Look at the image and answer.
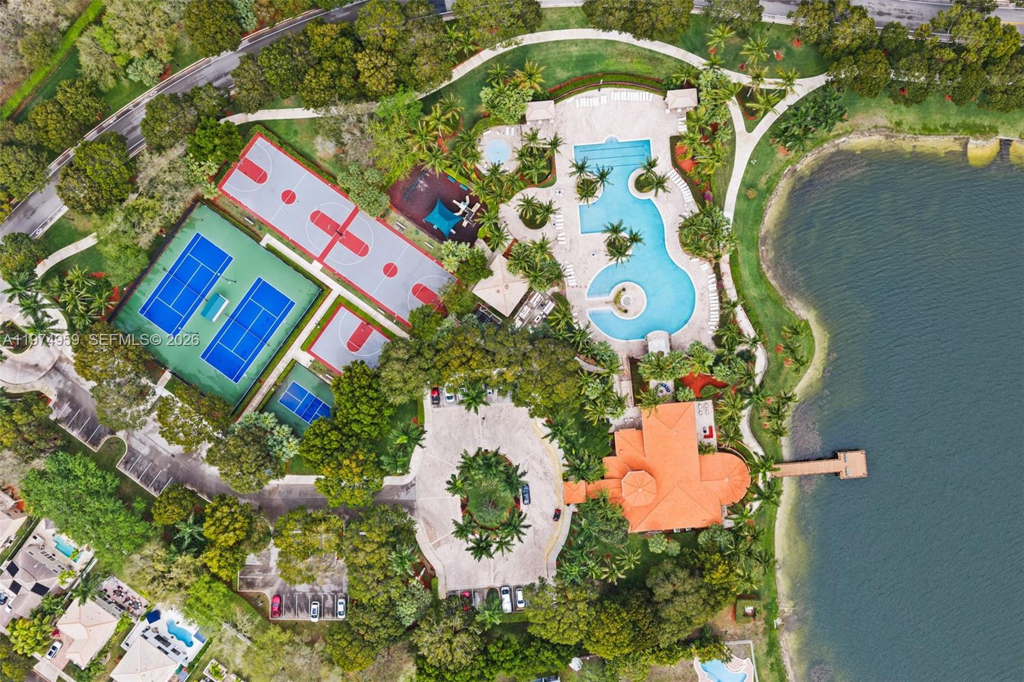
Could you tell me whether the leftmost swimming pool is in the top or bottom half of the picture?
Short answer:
bottom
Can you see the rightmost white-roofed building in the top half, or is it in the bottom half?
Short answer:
top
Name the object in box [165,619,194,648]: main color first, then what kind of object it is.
blue swimming pool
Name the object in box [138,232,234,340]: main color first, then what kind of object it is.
blue tennis court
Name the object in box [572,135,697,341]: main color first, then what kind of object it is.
blue swimming pool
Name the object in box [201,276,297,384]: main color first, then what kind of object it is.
blue tennis court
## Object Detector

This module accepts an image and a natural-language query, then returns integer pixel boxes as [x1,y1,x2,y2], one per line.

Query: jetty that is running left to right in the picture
[771,451,870,479]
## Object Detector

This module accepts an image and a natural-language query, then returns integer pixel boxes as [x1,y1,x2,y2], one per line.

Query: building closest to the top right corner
[666,88,698,112]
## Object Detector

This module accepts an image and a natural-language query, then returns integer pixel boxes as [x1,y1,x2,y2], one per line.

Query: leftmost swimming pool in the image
[52,533,82,564]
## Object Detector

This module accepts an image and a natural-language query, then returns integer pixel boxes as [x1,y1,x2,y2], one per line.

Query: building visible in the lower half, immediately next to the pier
[563,401,753,533]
